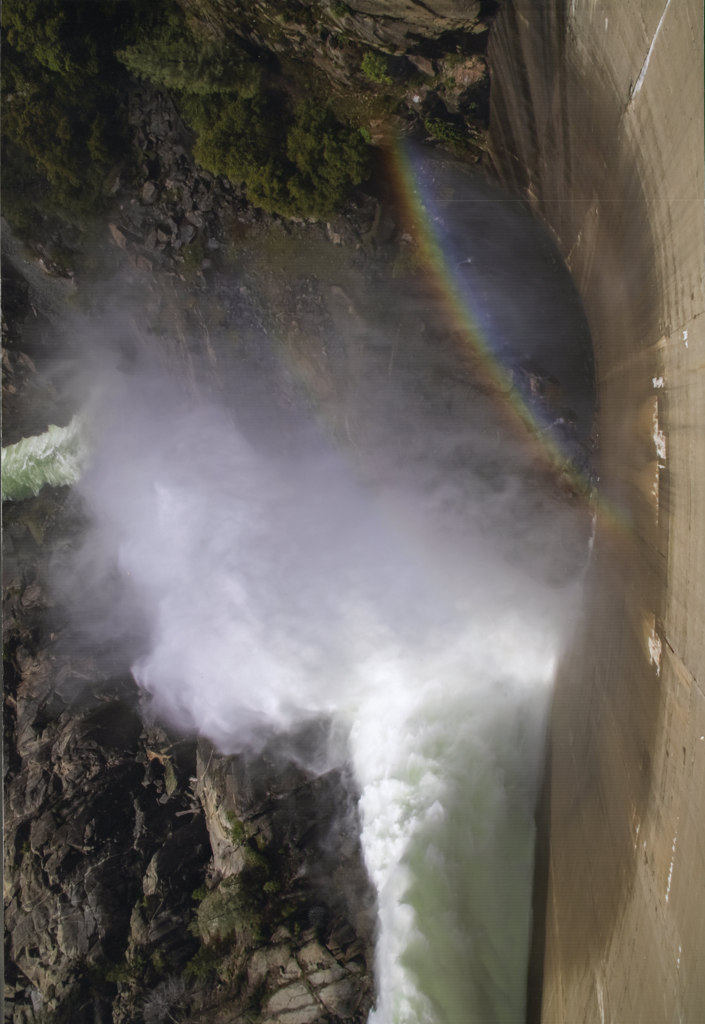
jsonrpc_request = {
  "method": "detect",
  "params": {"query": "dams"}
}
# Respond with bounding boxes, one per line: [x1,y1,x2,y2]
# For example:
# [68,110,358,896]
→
[462,0,705,1024]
